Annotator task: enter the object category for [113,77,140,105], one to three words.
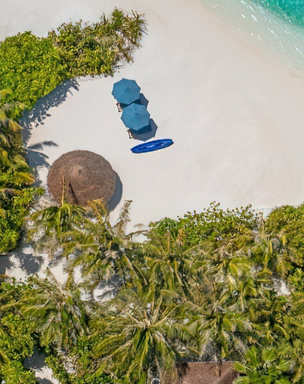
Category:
umbrella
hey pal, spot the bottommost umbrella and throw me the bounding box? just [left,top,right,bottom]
[121,103,150,132]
